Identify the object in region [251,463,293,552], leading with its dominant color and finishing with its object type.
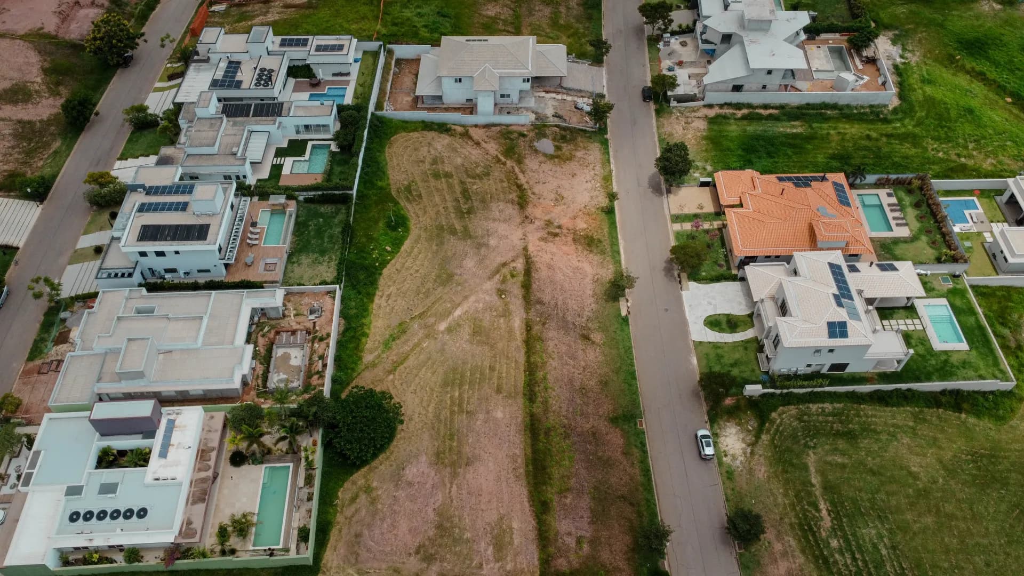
green swimming pool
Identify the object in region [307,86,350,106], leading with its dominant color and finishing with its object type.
blue swimming pool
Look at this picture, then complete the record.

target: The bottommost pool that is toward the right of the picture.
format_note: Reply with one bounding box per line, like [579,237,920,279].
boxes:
[914,298,969,351]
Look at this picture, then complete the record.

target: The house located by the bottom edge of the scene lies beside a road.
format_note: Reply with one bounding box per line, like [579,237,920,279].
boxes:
[4,399,227,576]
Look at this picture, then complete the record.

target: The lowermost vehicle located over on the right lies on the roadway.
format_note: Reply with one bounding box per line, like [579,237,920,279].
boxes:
[695,430,716,459]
